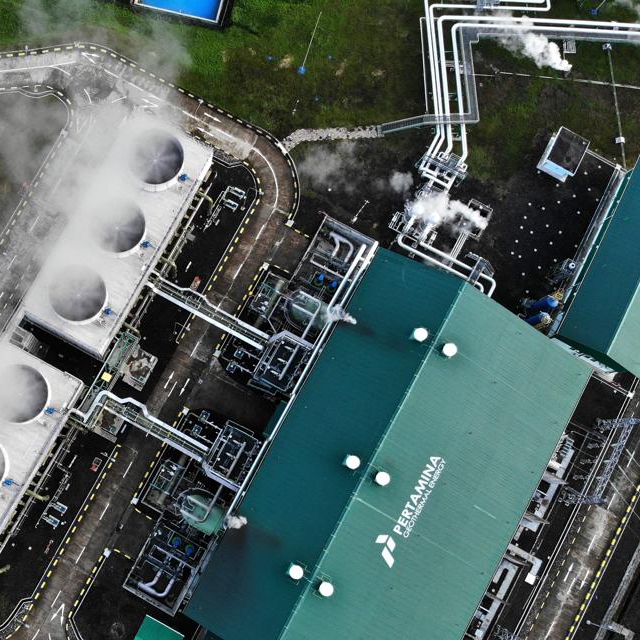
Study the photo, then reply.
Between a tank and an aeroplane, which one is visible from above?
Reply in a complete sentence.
Of the two, only a tank appears.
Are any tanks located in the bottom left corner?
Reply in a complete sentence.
Yes, a tank is visible in the bottom left corner.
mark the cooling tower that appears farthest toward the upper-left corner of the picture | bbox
[20,109,222,379]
